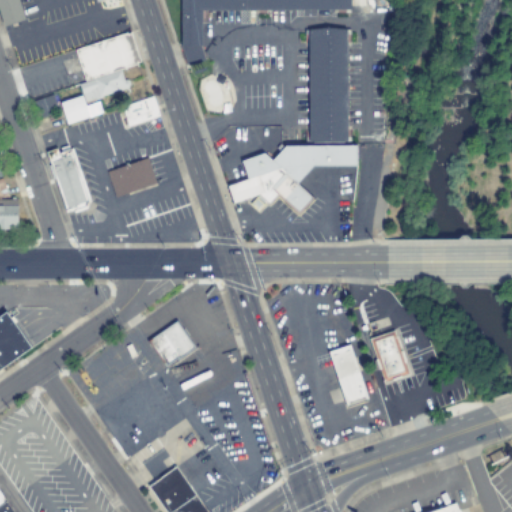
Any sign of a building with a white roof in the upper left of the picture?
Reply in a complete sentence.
Yes, the scene does show a building with a white roof in the upper left of the picture.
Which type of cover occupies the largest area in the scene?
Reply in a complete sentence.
The largest share of the image is taken up by paved ground.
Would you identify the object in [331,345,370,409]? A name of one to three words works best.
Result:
building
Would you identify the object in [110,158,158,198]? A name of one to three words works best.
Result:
building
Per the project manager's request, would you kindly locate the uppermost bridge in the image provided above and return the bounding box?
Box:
[389,234,512,289]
